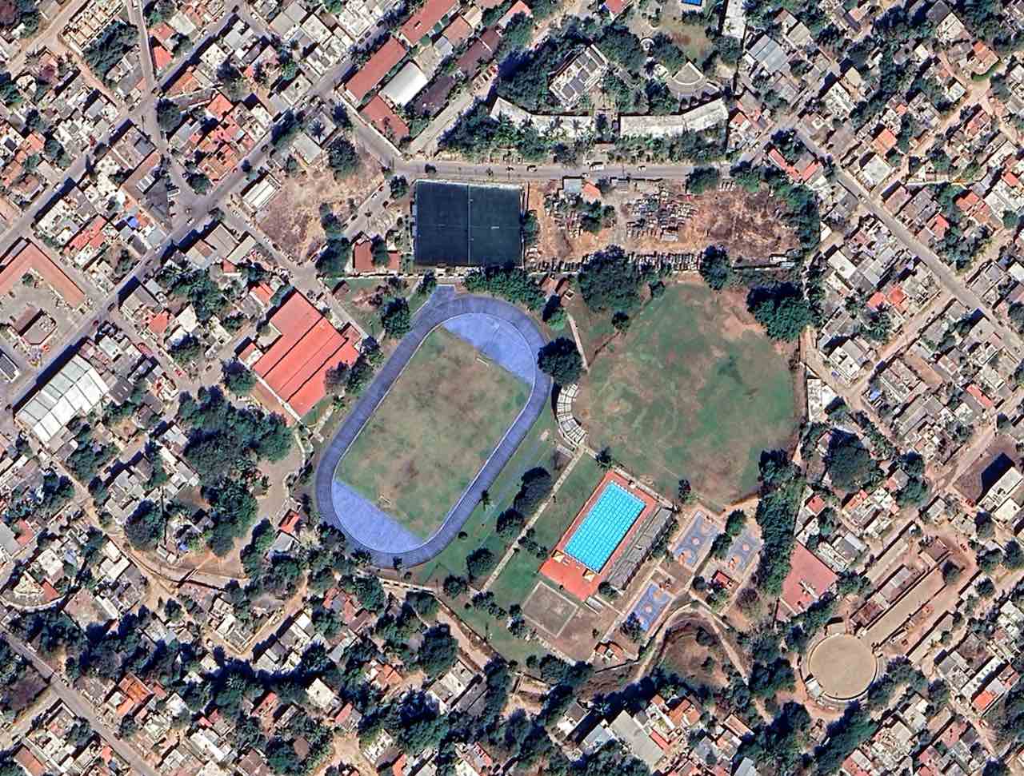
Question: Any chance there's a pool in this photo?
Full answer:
Yes, a pool can be made out from above.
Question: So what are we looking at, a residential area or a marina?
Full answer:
This looks like a residential area.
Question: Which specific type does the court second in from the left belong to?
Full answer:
It turns out the court second in from the left is a basketball court.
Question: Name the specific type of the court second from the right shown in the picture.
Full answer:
Looking closely, the court second from the right is a basketball court.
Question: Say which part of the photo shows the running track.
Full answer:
You can find the running track in the center area of the picture.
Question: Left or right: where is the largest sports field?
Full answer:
The largest sports field is on the right side of the image.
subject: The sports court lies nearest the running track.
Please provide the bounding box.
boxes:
[522,581,580,638]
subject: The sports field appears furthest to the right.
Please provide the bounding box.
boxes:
[576,279,800,506]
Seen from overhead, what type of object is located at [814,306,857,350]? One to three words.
house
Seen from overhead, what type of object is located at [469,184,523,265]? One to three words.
sports field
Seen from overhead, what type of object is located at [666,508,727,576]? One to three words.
basketball court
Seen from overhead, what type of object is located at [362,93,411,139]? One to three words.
building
